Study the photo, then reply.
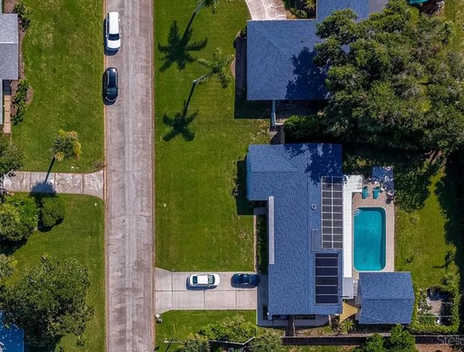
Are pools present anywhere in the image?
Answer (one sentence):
Yes, the frame does contain a pool.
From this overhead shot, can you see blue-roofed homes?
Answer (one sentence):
Yes, I can see a blue-roofed home in this picture.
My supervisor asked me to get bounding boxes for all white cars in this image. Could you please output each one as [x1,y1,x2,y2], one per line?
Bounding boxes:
[104,13,121,52]
[186,273,219,288]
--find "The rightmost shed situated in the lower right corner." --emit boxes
[352,272,415,324]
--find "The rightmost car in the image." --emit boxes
[230,272,259,287]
